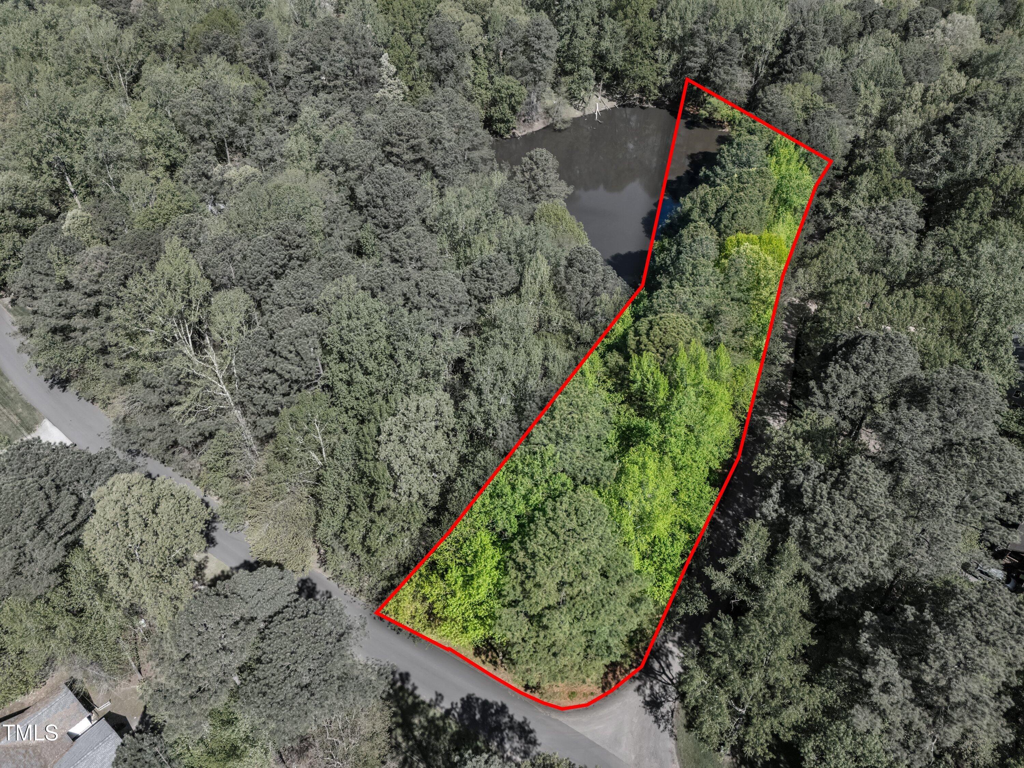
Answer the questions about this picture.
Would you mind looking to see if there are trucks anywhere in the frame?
No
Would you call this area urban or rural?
rural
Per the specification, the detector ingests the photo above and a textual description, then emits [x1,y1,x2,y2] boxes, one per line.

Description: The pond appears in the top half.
[490,107,731,307]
